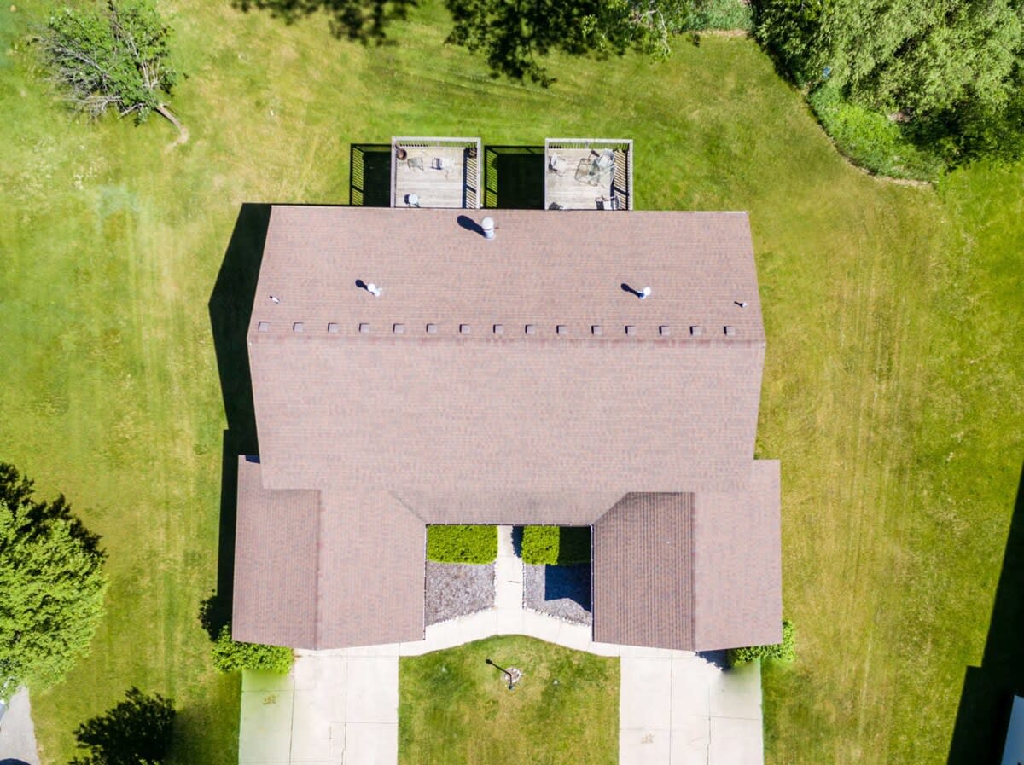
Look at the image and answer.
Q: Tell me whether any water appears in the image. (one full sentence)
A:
No, no water is visible.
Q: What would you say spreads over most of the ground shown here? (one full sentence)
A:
The bulk of the photo consists of grass.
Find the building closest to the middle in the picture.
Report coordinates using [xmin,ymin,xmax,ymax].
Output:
[231,206,784,652]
